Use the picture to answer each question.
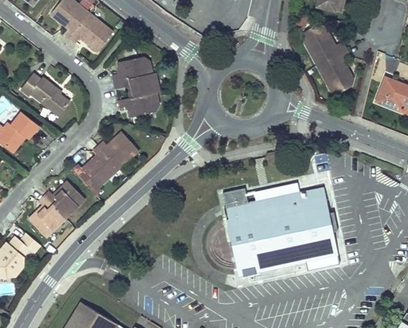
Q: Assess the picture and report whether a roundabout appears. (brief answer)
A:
Yes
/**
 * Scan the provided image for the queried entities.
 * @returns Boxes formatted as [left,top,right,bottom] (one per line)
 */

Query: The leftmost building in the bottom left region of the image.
[0,231,42,282]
